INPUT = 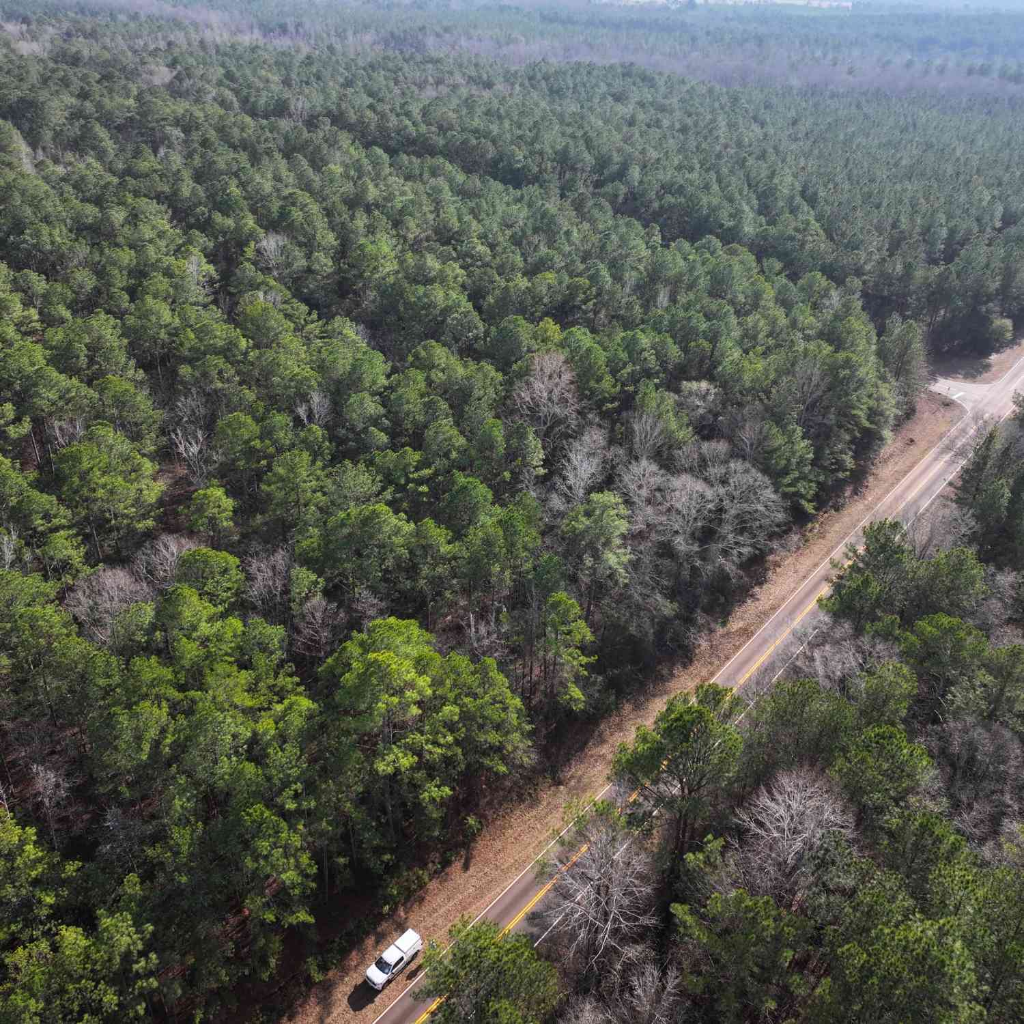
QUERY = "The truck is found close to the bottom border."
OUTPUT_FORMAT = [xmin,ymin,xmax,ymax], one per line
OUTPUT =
[368,931,422,990]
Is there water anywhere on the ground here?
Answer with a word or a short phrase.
No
